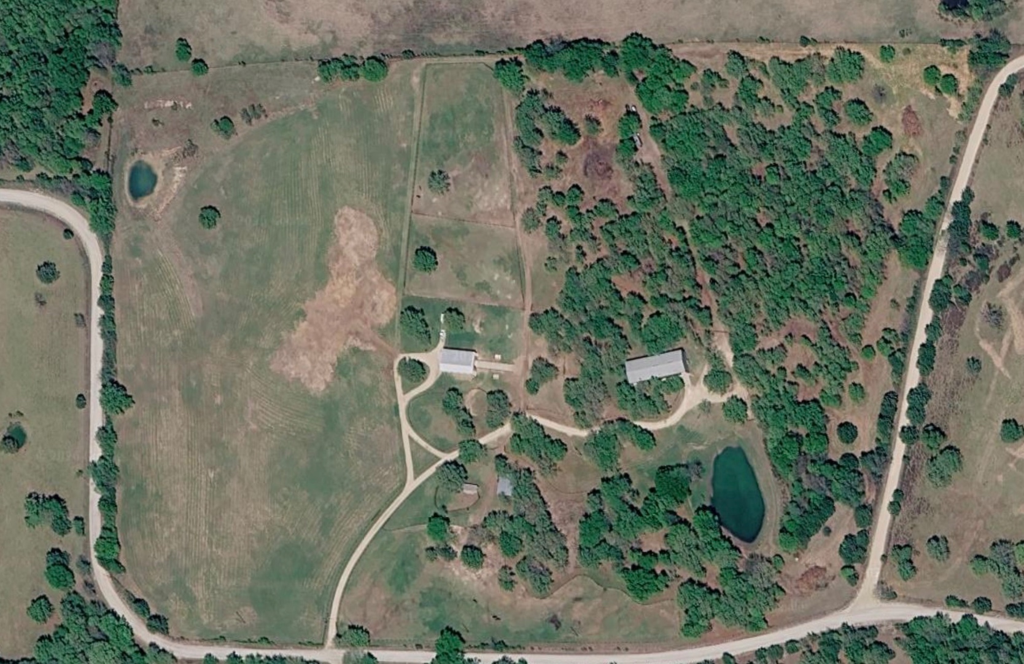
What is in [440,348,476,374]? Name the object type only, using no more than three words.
house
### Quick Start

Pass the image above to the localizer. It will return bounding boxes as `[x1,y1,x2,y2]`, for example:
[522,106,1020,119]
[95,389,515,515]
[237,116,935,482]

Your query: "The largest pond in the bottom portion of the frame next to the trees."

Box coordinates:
[712,447,765,541]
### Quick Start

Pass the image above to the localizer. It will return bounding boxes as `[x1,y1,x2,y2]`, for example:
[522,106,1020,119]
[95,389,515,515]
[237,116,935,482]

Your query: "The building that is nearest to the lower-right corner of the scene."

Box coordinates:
[625,349,686,383]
